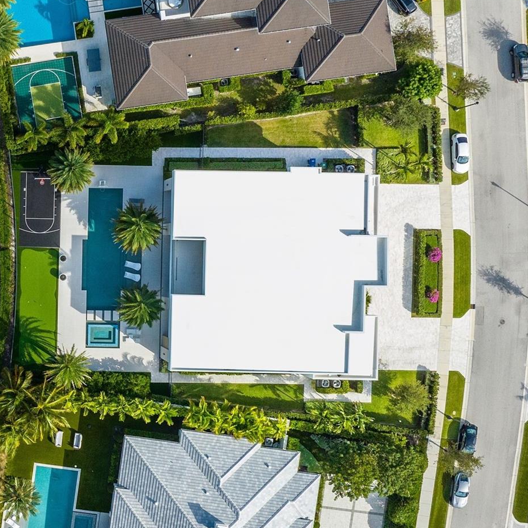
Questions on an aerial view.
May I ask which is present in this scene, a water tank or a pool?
pool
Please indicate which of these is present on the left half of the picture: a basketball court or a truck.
basketball court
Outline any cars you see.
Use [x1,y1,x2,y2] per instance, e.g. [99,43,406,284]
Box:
[510,41,528,81]
[395,0,420,15]
[458,420,478,458]
[448,470,469,509]
[449,133,468,172]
